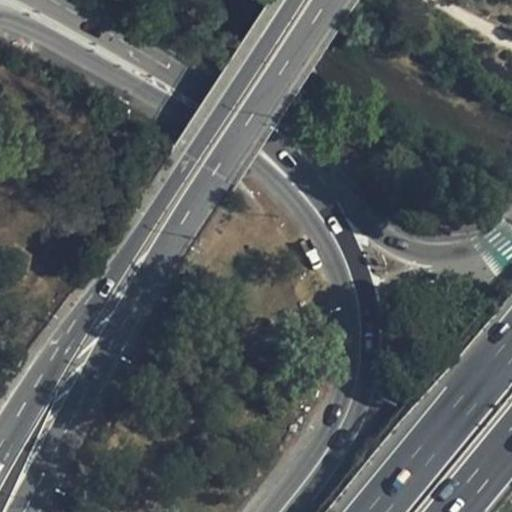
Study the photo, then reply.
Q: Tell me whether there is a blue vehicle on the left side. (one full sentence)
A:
No, looking on the left side, there is no blue vehicle.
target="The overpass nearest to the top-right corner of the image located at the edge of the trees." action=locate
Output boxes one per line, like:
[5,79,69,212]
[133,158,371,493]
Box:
[174,0,357,192]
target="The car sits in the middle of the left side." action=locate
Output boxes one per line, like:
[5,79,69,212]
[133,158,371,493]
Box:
[99,277,116,297]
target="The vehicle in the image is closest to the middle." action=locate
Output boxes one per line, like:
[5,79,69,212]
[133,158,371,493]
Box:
[300,238,322,270]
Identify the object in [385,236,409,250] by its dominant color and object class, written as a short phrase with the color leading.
gray car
